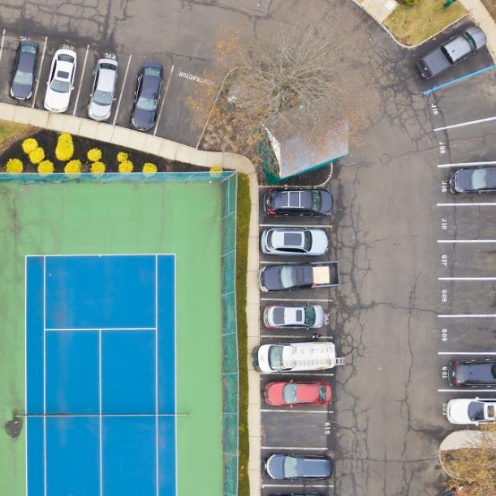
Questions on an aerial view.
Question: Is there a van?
Yes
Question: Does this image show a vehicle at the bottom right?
Yes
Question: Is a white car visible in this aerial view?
Yes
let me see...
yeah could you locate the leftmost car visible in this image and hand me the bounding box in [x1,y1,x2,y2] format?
[7,38,39,103]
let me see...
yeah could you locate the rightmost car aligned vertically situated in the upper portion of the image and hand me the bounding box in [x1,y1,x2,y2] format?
[128,61,163,132]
